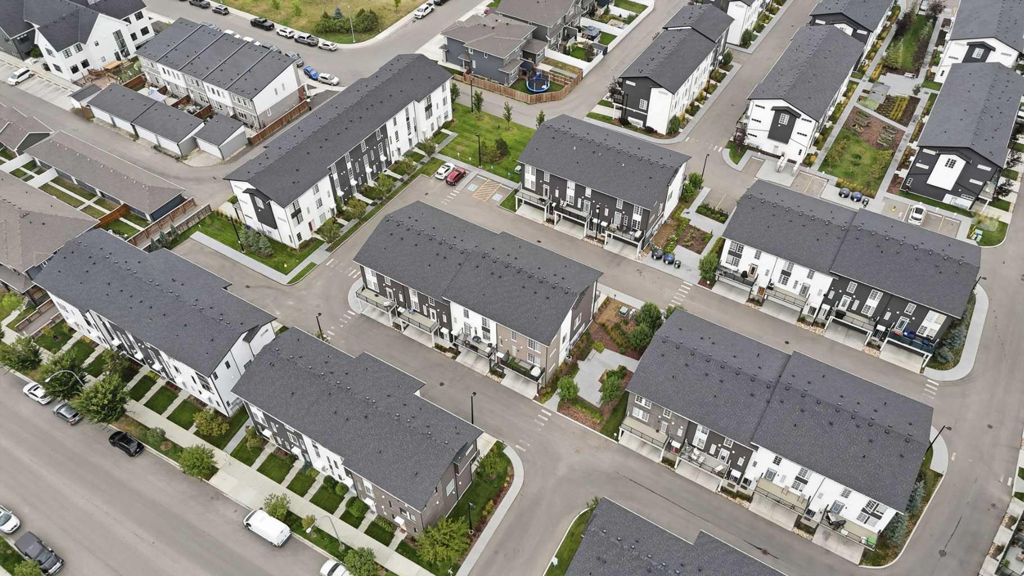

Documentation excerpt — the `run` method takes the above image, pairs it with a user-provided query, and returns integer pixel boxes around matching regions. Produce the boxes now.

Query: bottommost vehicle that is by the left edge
[12,536,62,574]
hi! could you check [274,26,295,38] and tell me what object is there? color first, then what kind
white vehicle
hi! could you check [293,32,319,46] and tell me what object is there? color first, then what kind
gray vehicle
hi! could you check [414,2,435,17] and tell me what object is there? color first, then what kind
white vehicle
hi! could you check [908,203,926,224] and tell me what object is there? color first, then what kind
white car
